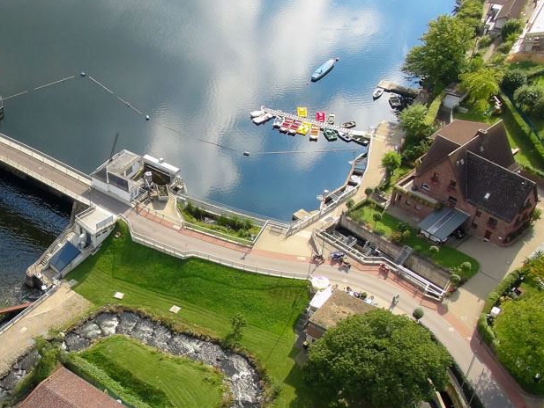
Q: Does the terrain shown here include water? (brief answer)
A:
Yes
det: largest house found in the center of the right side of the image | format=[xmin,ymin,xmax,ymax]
[390,120,542,245]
